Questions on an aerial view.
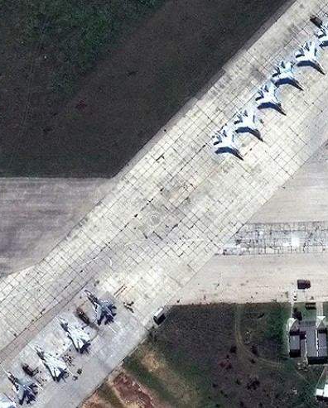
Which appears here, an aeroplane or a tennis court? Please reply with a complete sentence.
There is an aeroplane in the scene.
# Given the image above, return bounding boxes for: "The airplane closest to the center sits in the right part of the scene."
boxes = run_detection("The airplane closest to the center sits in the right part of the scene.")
[208,121,241,152]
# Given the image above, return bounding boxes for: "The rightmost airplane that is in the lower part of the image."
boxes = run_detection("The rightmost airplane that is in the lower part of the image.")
[85,290,115,325]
